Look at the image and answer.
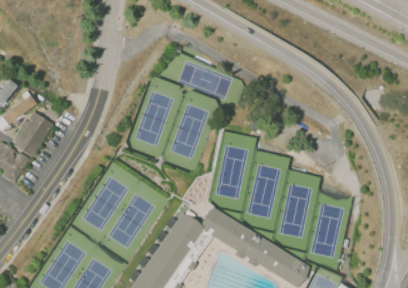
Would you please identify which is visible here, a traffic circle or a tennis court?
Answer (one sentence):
Of the two, only a tennis court appears.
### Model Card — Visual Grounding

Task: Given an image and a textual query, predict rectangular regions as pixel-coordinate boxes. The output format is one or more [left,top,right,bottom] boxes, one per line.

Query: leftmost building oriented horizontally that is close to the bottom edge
[134,210,310,288]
